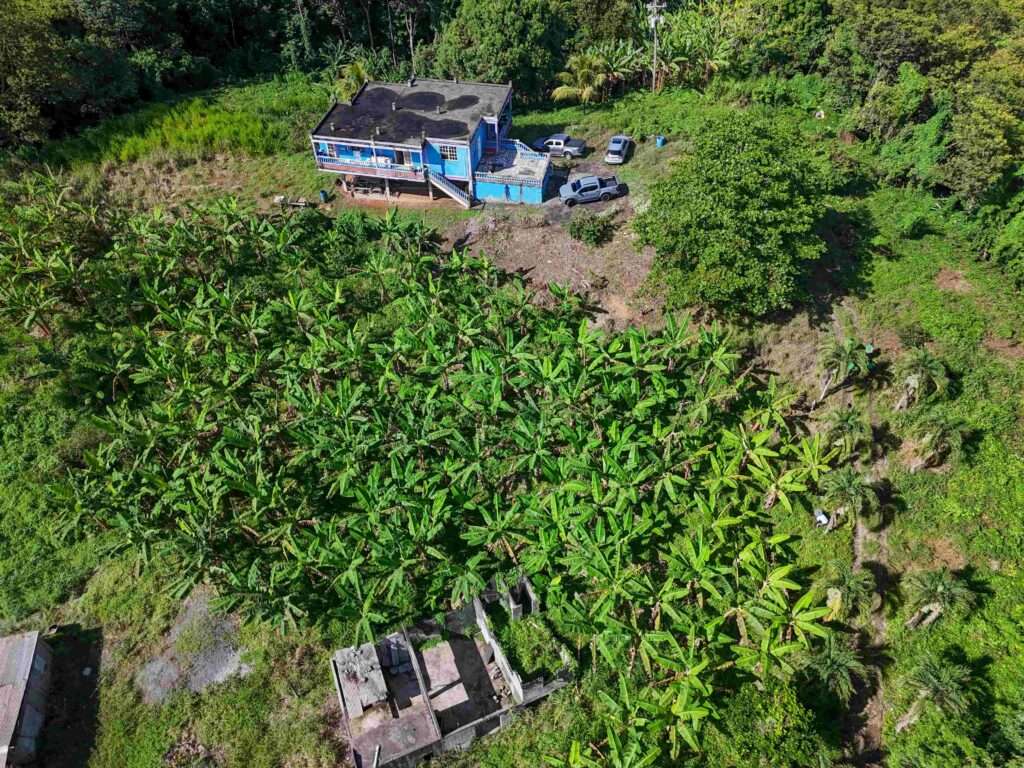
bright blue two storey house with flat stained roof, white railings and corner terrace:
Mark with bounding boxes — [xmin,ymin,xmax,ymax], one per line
[310,74,552,213]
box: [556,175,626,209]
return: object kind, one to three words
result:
truck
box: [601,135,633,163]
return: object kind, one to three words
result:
car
